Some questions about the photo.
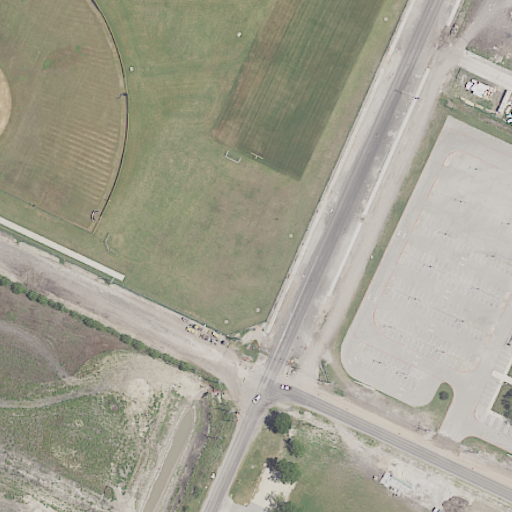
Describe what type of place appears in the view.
sports ground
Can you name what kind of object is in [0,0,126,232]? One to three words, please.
baseball field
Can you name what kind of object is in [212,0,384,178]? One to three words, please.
sports field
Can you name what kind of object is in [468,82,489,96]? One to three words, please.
vehicle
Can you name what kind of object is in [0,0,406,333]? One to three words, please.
sports field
